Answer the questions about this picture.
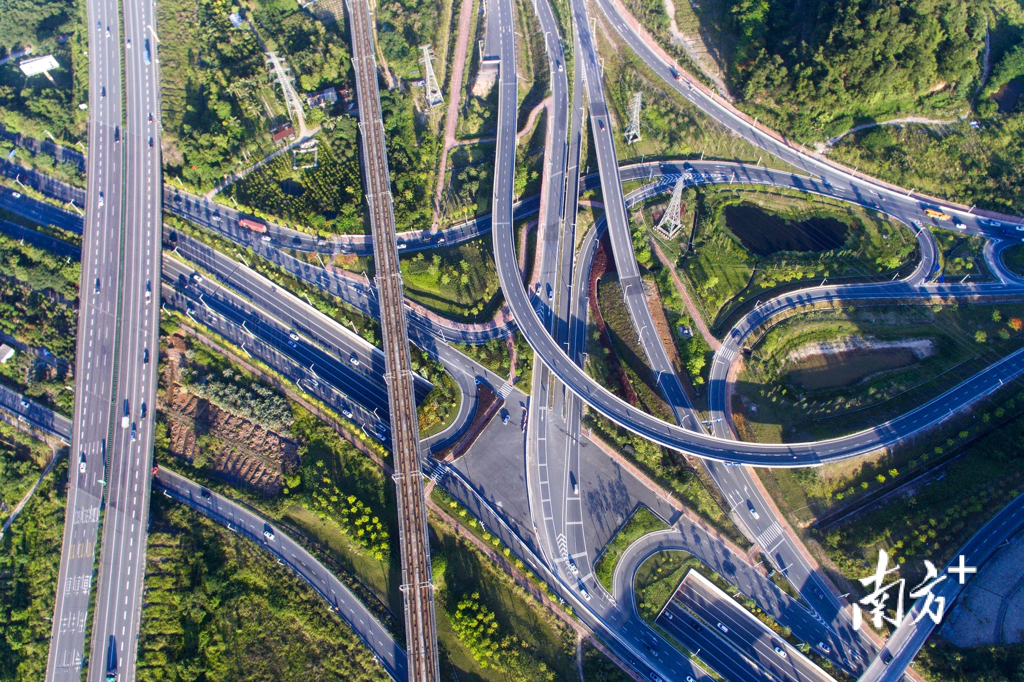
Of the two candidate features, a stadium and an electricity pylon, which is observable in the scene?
electricity pylon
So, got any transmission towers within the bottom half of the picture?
No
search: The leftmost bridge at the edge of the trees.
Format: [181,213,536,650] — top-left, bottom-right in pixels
[42,0,163,682]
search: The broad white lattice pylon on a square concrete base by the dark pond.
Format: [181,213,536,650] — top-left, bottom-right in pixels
[649,168,689,243]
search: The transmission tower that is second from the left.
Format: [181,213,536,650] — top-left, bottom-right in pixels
[422,48,446,108]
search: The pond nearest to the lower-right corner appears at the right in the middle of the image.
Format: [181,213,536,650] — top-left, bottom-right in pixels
[788,347,918,391]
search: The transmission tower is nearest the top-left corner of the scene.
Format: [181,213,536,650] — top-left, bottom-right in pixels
[271,55,306,118]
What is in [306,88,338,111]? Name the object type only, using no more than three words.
shed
